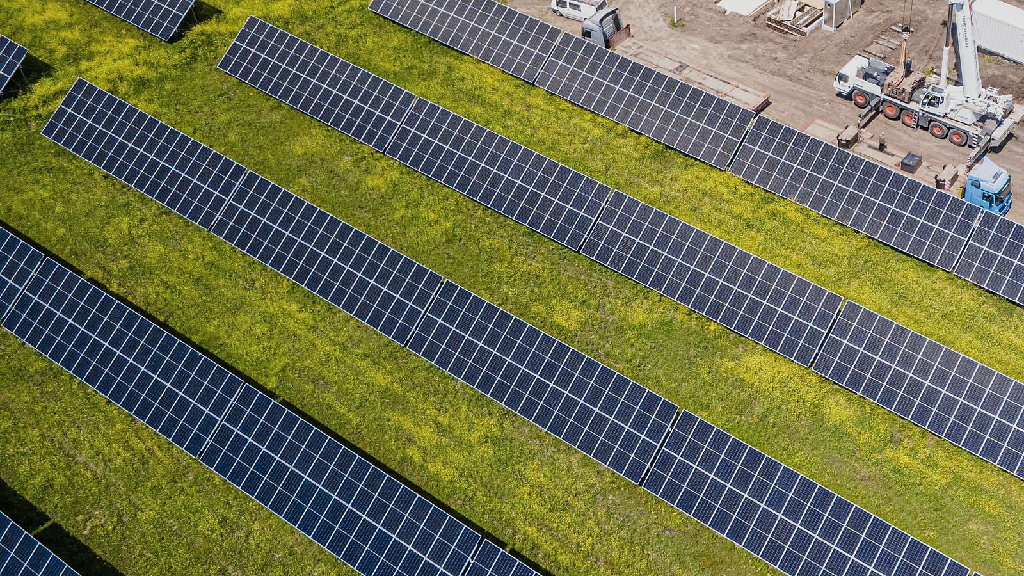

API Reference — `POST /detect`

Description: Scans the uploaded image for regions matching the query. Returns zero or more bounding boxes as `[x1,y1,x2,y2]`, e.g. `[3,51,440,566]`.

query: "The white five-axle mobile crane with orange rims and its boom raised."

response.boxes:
[830,0,1024,180]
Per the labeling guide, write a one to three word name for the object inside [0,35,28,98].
solar array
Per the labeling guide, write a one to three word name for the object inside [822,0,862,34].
shed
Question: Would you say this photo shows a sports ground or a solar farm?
solar farm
